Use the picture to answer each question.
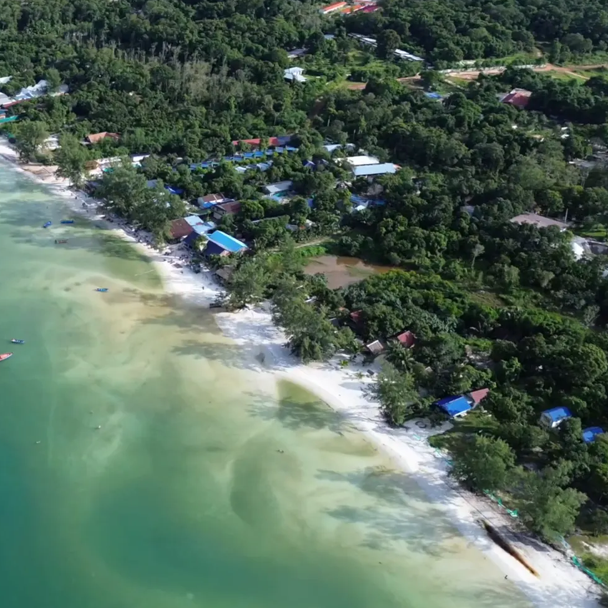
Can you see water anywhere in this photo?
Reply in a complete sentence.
Yes, some water is visible.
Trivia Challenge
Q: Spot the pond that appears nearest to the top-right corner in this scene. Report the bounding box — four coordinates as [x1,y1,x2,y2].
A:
[304,256,403,290]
